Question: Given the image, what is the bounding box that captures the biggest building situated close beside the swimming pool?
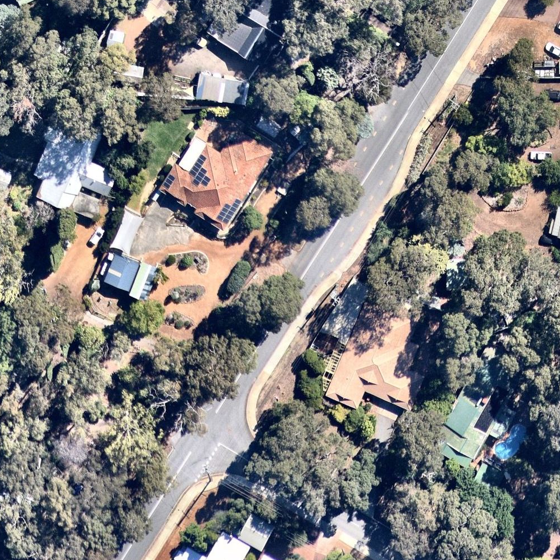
[441,387,501,462]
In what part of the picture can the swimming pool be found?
bottom right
